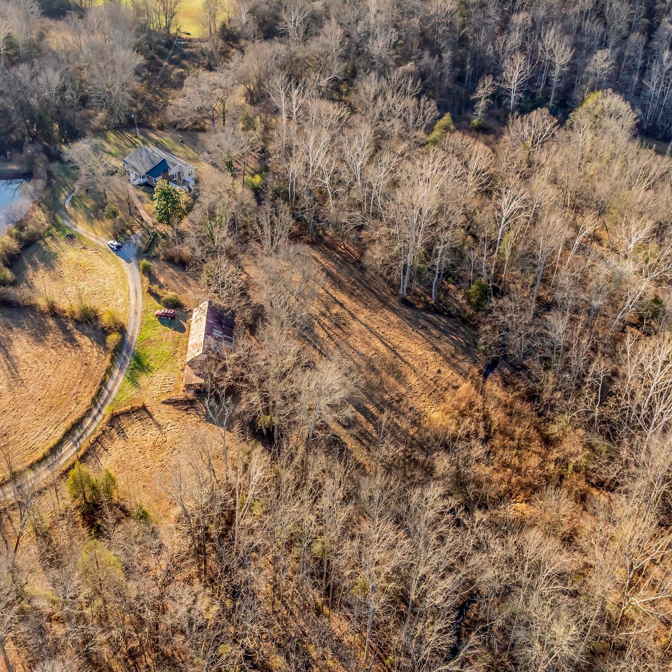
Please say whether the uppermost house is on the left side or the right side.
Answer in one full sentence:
It is on the left.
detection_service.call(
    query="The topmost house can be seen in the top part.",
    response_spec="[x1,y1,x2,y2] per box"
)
[120,144,200,190]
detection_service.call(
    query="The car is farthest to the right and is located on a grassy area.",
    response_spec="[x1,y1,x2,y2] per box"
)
[154,309,177,322]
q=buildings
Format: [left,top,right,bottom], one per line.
[120,144,200,190]
[180,296,239,398]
